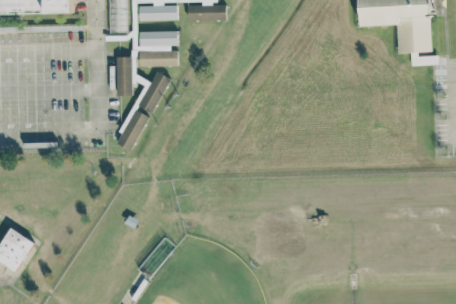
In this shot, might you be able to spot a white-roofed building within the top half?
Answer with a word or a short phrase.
Yes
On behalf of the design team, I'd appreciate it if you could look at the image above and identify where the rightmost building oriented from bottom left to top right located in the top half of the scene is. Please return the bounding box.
[138,72,172,114]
